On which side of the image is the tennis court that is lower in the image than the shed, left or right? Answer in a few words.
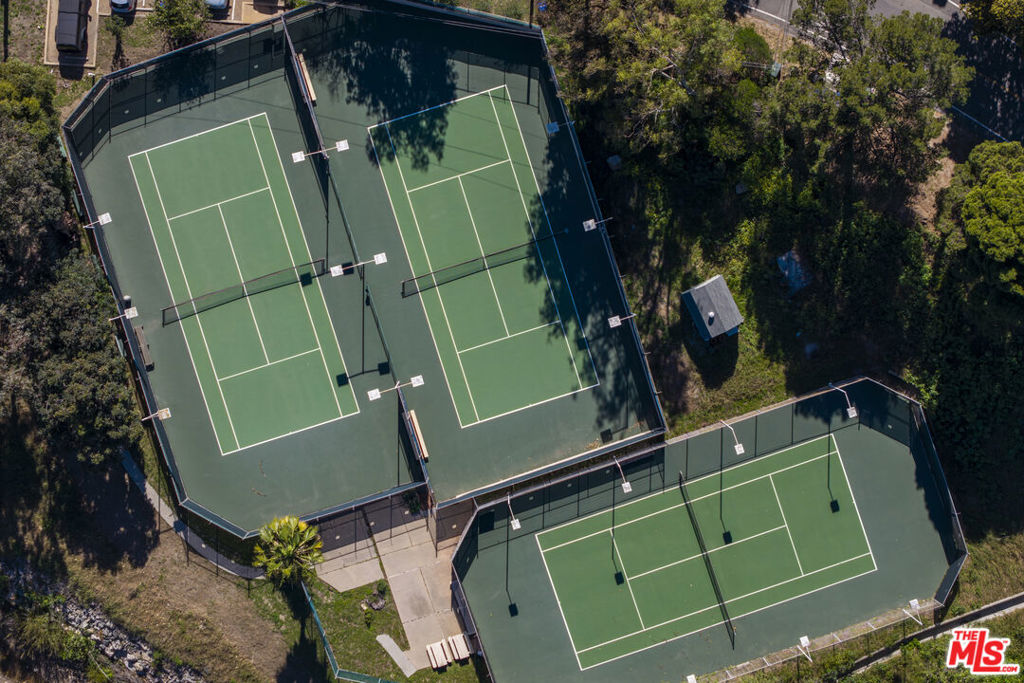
right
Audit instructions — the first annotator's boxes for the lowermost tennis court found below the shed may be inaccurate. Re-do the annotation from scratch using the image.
[453,376,957,683]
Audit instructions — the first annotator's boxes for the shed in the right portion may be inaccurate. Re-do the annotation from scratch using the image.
[684,273,743,339]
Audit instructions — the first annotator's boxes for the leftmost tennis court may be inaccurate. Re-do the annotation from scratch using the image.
[75,25,424,531]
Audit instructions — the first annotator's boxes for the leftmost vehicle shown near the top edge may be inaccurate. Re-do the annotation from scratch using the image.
[60,0,89,54]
